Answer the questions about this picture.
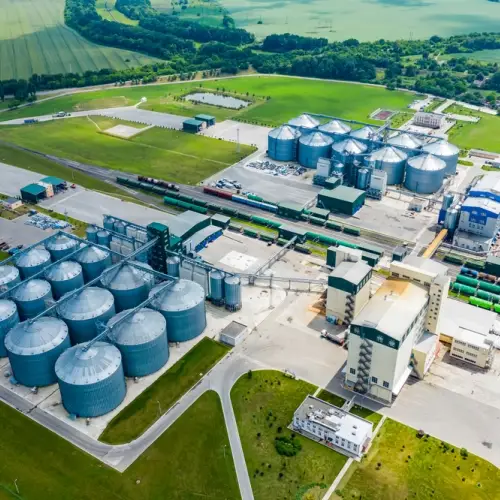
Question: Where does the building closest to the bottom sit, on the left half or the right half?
right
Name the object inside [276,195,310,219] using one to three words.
shed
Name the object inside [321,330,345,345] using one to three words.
vehicle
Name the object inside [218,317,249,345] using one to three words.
house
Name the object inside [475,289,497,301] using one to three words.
rail car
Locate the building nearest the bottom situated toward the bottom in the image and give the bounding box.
[287,390,377,459]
